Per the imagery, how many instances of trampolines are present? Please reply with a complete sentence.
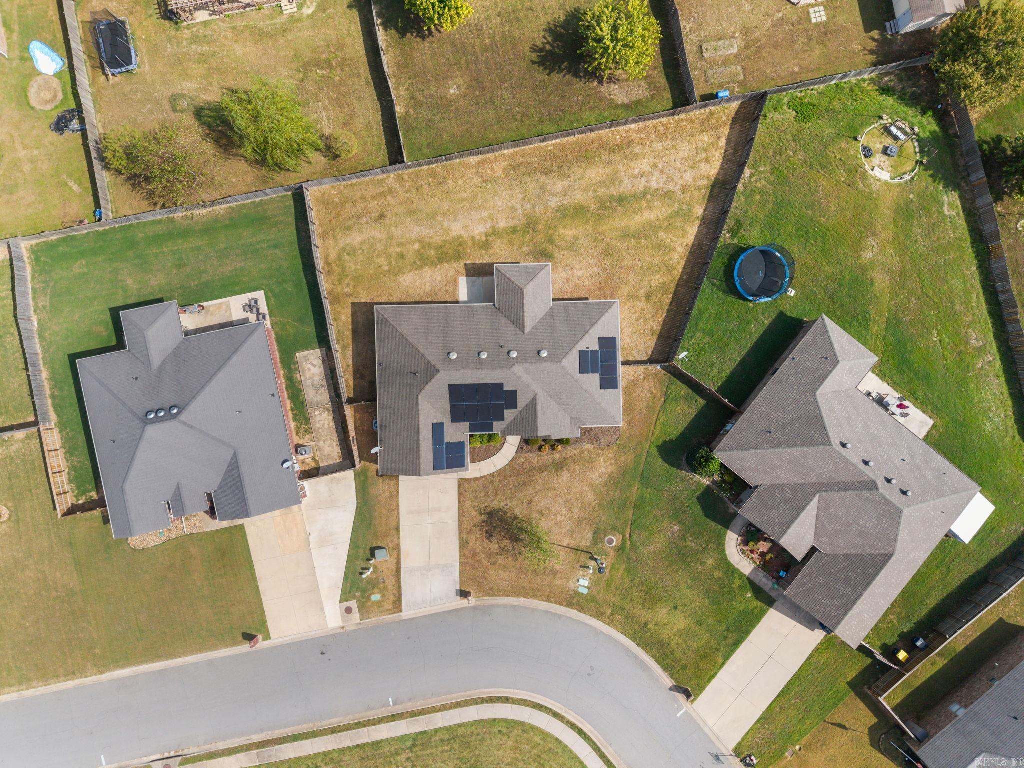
In total, 2 trampolines can be seen.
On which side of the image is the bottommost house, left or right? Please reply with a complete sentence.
The bottommost house appears in the right half of the scene.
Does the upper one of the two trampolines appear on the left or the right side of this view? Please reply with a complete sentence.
The upper one of the two trampolines is on the left side of the image.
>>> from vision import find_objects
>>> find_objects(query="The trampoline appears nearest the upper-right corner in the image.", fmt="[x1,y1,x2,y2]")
[730,242,797,305]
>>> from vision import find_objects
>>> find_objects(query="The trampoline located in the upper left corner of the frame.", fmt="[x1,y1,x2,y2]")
[84,8,142,77]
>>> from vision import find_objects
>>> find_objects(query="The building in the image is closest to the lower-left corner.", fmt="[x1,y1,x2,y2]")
[76,300,308,539]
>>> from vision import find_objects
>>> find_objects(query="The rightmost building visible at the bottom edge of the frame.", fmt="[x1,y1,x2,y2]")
[904,634,1024,768]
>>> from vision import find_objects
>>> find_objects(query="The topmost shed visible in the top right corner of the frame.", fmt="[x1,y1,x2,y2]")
[883,0,953,34]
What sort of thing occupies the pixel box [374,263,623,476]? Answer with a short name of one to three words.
house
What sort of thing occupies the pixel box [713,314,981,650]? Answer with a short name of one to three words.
house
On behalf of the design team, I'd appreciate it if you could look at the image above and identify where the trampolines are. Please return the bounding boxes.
[84,8,142,77]
[730,242,797,305]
